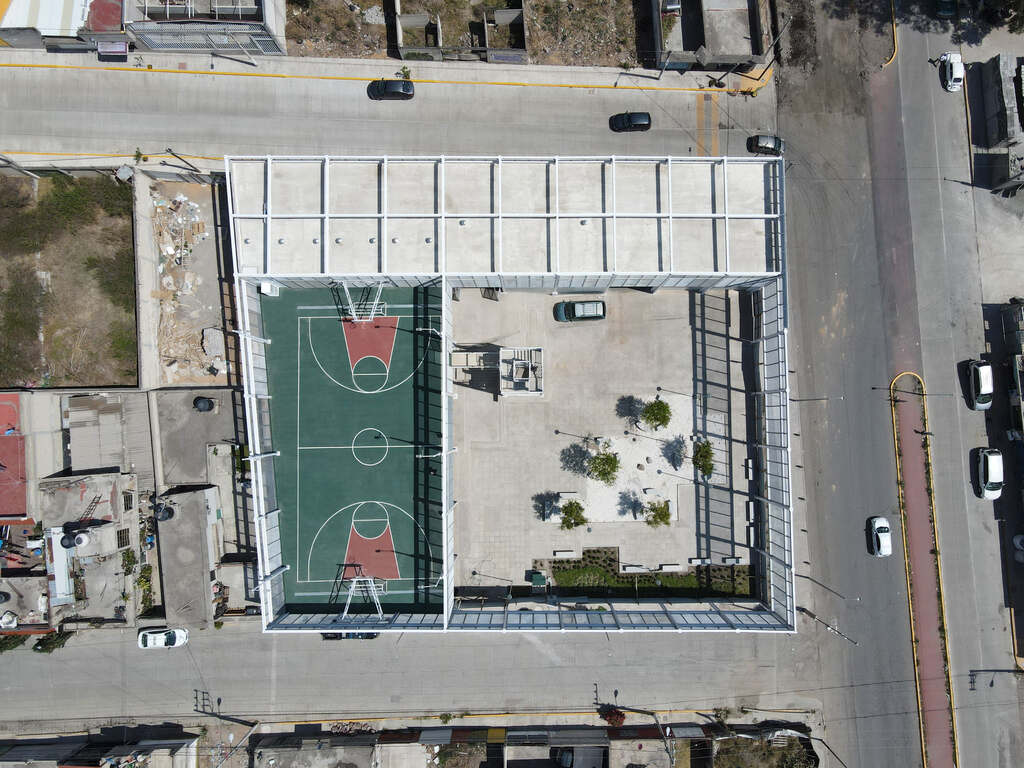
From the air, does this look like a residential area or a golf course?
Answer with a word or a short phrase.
residential area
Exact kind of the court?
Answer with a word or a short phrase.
basketball court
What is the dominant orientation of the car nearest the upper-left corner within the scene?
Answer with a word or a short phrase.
from left to right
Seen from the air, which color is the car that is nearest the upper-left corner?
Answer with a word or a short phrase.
black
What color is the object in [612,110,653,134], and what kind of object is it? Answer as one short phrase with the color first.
black car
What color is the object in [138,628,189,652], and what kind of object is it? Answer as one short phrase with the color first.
white car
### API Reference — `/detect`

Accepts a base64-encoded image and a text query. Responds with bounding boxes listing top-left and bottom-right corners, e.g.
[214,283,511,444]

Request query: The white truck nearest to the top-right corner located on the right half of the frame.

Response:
[938,53,965,94]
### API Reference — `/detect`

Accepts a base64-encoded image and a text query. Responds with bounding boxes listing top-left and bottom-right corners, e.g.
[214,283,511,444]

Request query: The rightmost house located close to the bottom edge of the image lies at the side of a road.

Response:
[605,721,667,768]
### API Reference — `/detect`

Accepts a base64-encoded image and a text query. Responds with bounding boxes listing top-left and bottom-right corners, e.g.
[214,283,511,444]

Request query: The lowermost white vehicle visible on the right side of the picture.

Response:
[867,516,893,558]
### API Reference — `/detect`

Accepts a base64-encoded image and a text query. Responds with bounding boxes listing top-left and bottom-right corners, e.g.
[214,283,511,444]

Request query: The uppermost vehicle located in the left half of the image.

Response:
[369,78,415,102]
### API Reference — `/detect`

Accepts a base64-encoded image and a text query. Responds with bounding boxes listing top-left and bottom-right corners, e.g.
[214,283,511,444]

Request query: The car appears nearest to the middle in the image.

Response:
[555,300,606,323]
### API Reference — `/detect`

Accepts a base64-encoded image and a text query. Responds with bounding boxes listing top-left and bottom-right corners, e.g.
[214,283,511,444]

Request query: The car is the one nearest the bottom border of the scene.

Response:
[555,745,578,768]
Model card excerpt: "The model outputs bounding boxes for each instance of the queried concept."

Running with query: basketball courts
[258,288,456,612]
